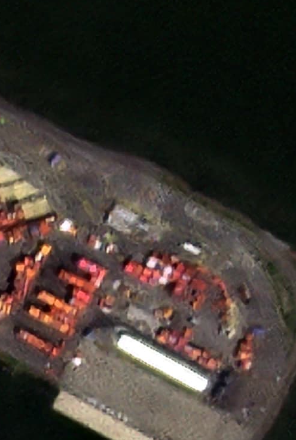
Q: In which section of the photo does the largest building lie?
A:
bottom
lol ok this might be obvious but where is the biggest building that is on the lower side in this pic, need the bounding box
[117,333,210,391]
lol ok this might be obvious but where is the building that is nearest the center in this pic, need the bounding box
[109,203,154,237]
